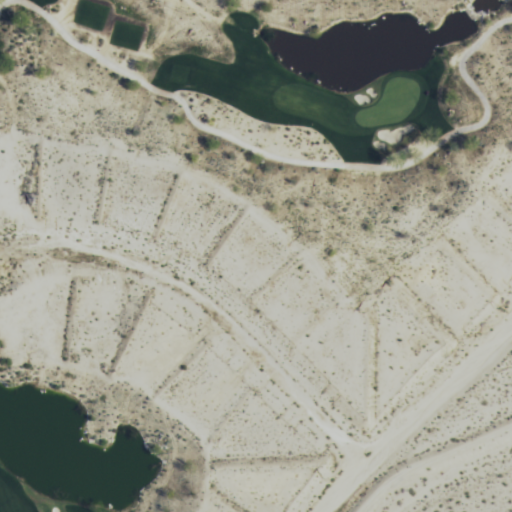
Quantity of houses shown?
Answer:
0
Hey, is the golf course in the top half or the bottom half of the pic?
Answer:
top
